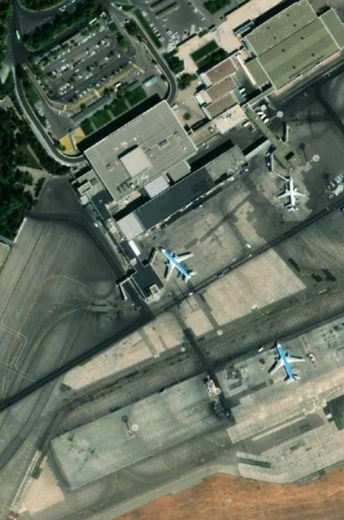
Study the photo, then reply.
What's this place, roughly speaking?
airport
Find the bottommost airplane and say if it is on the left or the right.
right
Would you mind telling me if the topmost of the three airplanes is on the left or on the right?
right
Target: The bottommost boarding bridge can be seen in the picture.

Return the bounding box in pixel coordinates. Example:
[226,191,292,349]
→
[118,275,133,301]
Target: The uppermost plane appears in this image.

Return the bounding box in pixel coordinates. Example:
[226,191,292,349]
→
[278,177,305,211]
